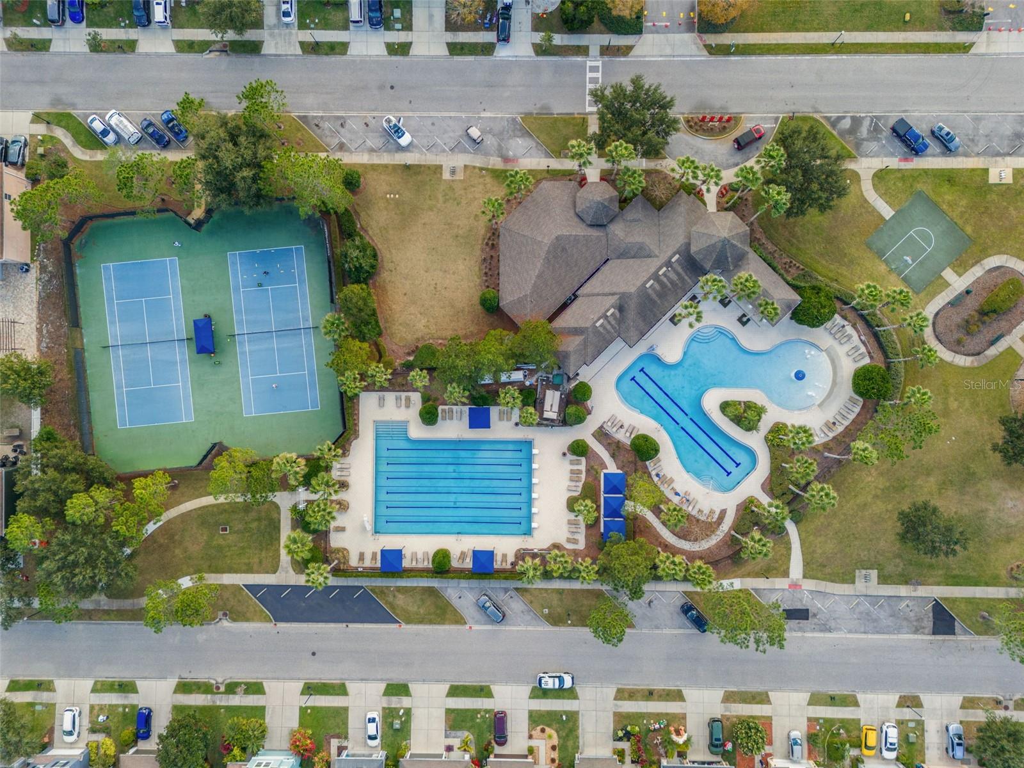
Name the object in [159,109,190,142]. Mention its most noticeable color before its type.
blue car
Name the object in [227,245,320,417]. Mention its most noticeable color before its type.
blue tennis court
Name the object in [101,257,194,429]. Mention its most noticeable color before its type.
blue tennis court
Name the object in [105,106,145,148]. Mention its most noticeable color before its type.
white van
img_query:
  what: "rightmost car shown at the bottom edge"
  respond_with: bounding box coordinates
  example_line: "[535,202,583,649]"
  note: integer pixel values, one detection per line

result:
[945,721,966,760]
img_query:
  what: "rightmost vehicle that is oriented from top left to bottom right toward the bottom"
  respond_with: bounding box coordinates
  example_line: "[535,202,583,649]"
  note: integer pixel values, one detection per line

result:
[679,600,710,635]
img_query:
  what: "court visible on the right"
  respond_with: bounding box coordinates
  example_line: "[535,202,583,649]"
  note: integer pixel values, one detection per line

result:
[866,190,972,293]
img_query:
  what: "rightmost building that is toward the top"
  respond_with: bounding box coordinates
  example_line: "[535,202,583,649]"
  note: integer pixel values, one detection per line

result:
[499,181,802,378]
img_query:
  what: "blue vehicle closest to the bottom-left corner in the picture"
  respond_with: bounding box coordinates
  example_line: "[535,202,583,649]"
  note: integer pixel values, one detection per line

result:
[135,706,153,741]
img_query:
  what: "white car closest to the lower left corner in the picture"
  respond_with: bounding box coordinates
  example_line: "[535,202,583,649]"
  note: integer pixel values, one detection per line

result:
[62,706,81,742]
